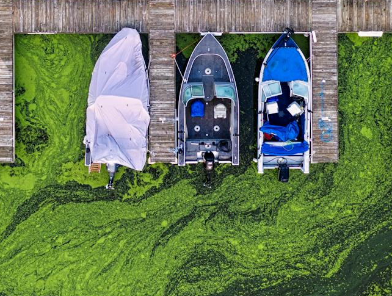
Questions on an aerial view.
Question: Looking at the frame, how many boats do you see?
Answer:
3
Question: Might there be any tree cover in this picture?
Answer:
No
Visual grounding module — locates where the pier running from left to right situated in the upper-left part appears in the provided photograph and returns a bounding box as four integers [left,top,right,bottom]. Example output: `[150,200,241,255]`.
[15,0,148,35]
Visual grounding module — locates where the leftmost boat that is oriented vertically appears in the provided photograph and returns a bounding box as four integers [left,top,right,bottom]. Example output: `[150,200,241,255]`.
[84,27,150,193]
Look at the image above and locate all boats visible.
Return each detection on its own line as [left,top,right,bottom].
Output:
[255,26,312,189]
[178,33,240,191]
[84,27,150,193]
